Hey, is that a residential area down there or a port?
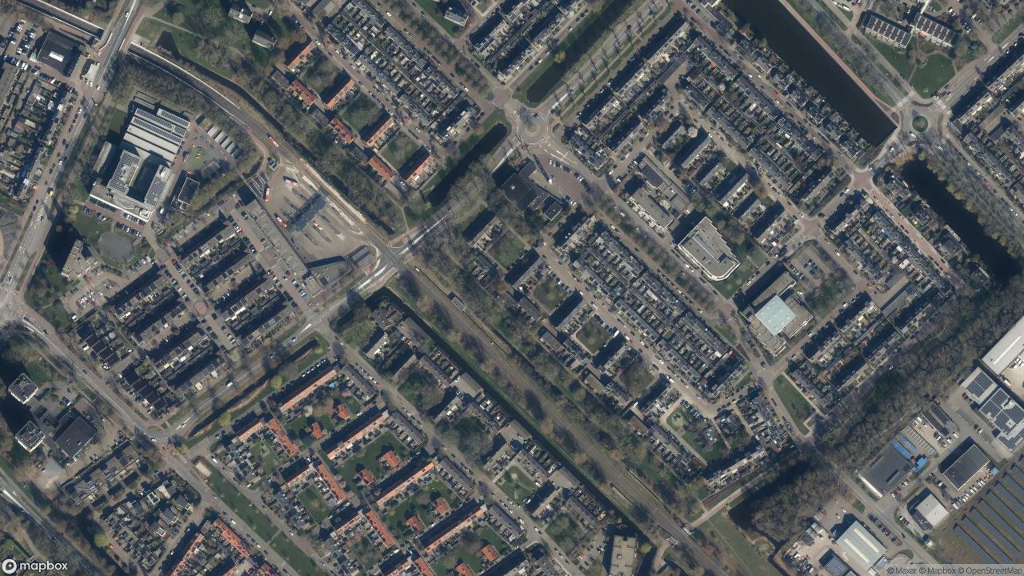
residential area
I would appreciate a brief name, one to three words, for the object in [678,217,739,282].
building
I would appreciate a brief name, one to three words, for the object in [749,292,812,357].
building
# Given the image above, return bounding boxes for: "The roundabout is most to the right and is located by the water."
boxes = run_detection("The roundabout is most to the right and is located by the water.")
[901,105,939,143]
